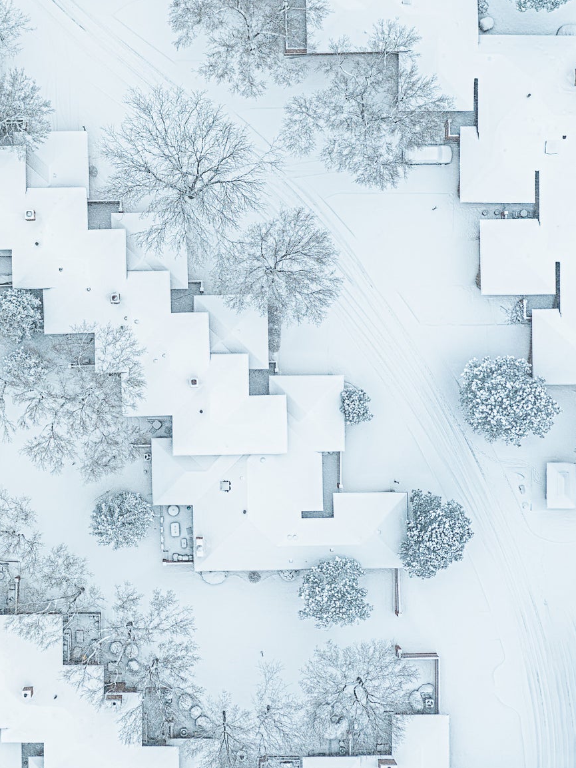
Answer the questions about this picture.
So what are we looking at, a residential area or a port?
residential area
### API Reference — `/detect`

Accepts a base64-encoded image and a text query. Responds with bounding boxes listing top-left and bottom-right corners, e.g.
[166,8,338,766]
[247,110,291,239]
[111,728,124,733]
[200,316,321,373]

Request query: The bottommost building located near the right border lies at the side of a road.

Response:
[544,463,576,508]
